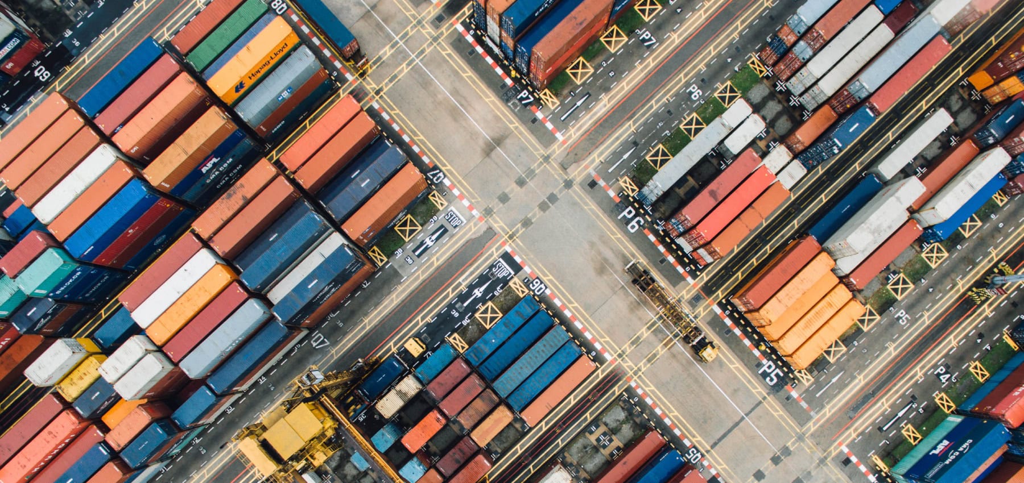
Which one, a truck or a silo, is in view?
truck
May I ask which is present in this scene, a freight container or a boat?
freight container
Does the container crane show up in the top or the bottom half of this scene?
bottom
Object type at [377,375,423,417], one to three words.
shipping container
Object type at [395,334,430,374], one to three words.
truck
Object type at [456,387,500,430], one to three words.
shipping container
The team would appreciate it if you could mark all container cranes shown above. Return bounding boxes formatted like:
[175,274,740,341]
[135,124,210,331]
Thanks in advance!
[220,356,406,483]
